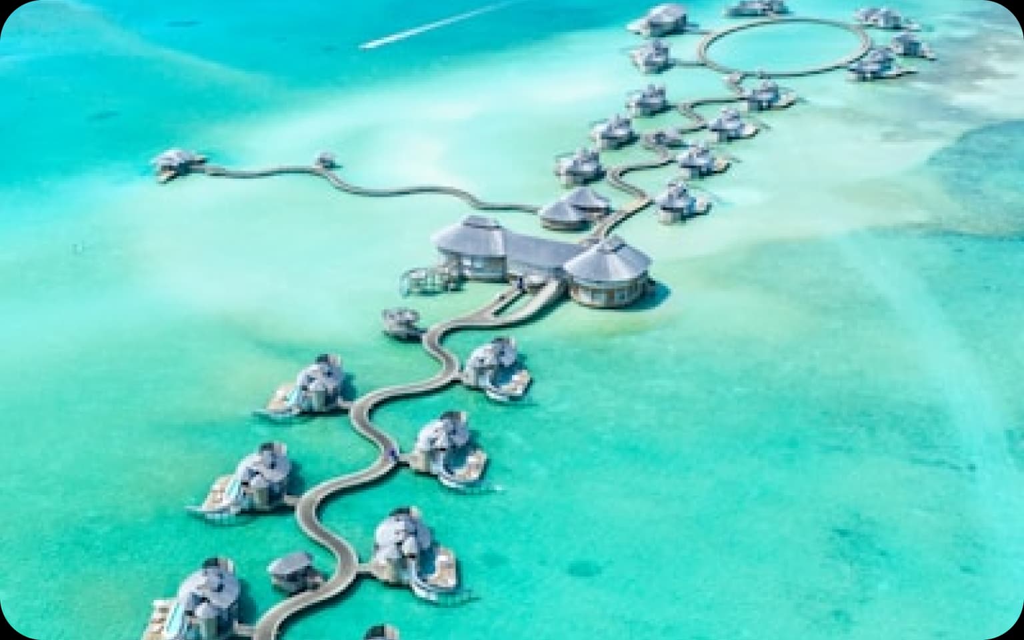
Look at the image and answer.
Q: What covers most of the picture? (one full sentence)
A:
For the most part, this view shows water.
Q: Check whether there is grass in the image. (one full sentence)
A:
No, the scene doesn't show any grass.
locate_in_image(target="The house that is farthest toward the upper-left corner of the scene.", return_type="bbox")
[145,152,219,189]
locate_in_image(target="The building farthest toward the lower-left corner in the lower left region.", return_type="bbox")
[145,556,249,640]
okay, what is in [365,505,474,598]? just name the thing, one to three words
house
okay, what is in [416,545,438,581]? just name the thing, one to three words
swimming pool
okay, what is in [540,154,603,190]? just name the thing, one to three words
house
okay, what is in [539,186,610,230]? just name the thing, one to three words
building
